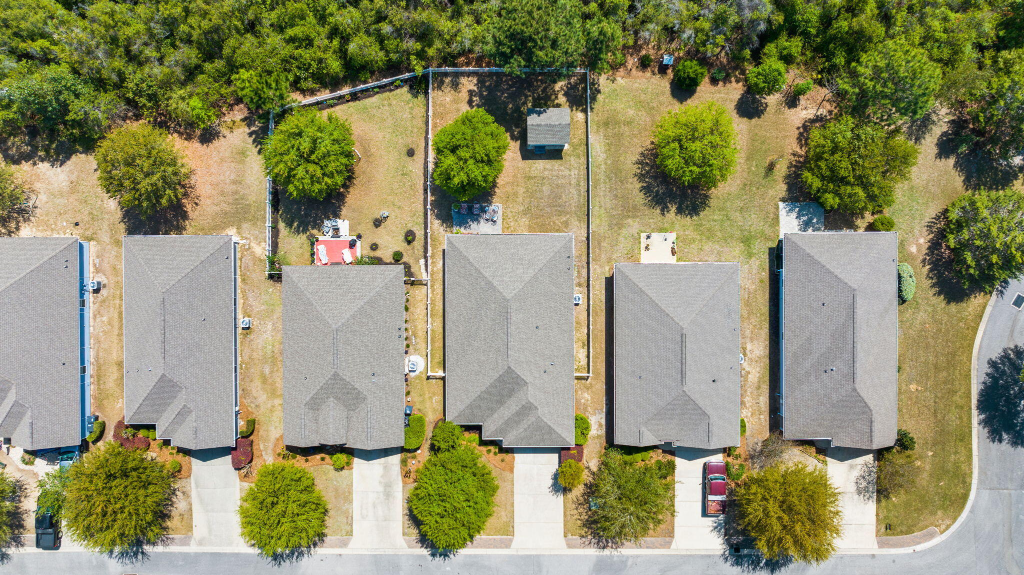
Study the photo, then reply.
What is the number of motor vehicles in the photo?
3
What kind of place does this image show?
residential area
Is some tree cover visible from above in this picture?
Yes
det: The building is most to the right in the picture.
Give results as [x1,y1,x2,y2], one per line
[779,232,898,450]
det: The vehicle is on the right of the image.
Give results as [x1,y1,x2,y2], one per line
[706,459,730,516]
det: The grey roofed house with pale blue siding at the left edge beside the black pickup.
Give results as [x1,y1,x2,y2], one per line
[0,237,93,451]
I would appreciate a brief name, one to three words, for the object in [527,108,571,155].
shed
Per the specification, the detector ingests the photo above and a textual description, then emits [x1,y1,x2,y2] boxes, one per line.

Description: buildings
[445,234,575,448]
[779,232,898,450]
[0,237,93,451]
[283,266,404,450]
[123,235,239,449]
[613,263,741,450]
[527,108,571,155]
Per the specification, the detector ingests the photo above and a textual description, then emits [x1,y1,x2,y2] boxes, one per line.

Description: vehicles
[706,459,730,516]
[58,447,84,490]
[29,495,60,550]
